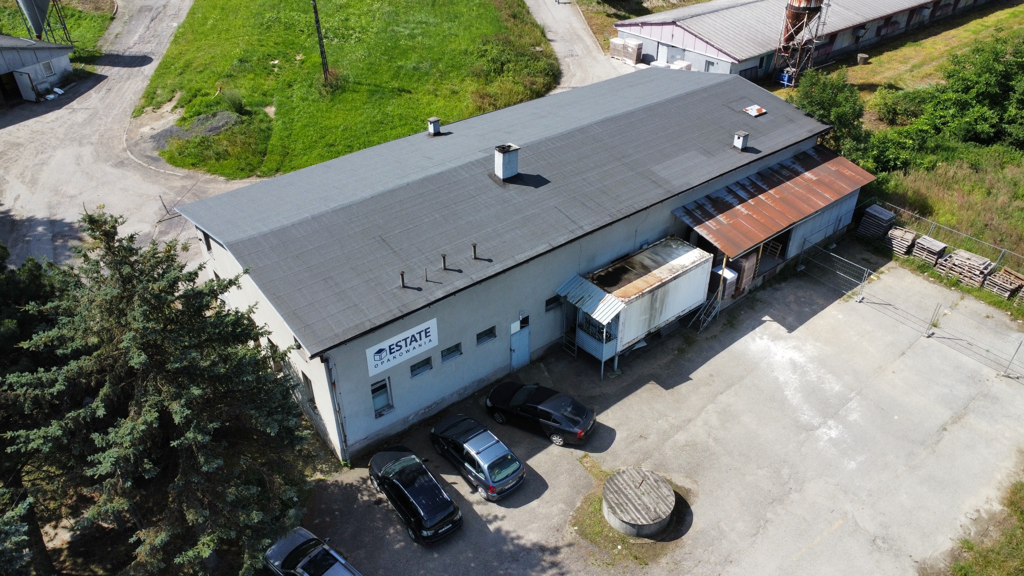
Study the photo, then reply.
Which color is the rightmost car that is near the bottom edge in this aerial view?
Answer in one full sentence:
The rightmost car that is near the bottom edge looks black in the image.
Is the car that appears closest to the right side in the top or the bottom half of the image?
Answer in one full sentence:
The bottom half of the photo is where the car that appears closest to the right side is.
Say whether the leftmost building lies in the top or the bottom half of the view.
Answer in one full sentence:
The leftmost building sits in the top half of the picture.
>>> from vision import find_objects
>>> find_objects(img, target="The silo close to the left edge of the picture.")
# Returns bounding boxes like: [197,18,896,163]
[15,0,74,50]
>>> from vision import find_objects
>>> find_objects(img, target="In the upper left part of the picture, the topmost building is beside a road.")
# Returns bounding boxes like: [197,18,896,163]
[0,37,80,114]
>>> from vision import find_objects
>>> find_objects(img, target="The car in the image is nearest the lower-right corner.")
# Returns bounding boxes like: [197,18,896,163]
[482,381,600,447]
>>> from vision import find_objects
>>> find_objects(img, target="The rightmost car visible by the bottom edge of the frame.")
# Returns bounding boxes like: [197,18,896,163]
[366,442,472,554]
